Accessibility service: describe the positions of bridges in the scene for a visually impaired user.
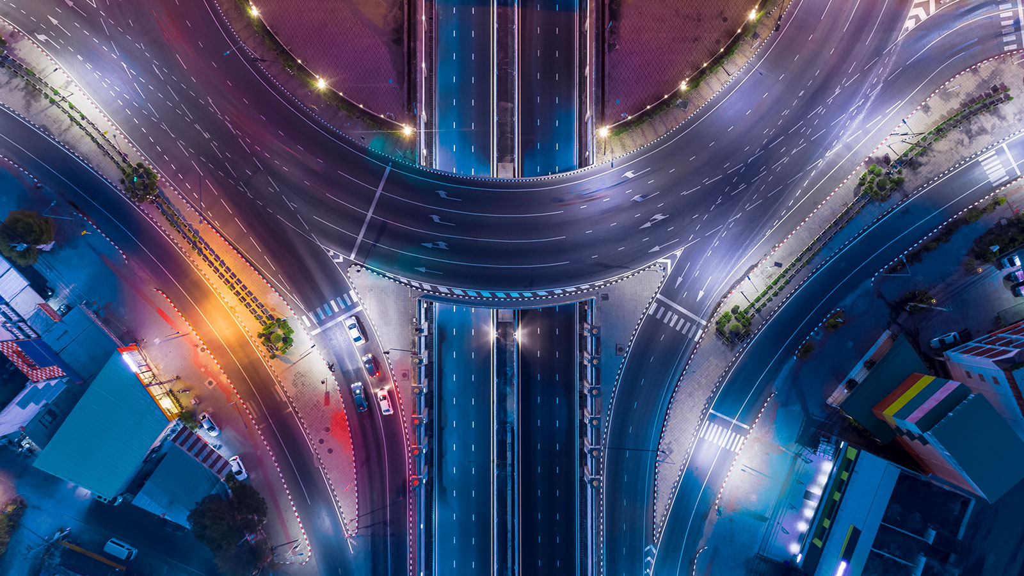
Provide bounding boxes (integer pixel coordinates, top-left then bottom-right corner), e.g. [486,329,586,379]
[421,162,591,322]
